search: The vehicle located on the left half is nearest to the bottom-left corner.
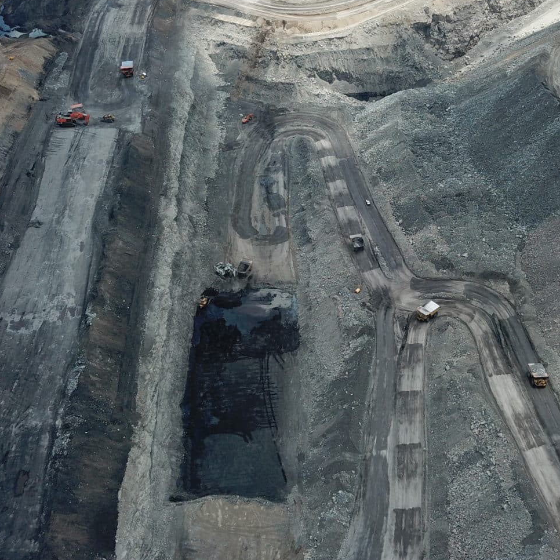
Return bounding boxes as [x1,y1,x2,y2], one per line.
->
[198,292,213,308]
